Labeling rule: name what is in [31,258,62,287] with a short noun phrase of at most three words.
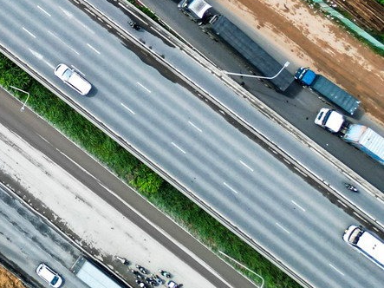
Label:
car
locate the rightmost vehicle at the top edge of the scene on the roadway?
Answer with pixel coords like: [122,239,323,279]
[166,0,296,92]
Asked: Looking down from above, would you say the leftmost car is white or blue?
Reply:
white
